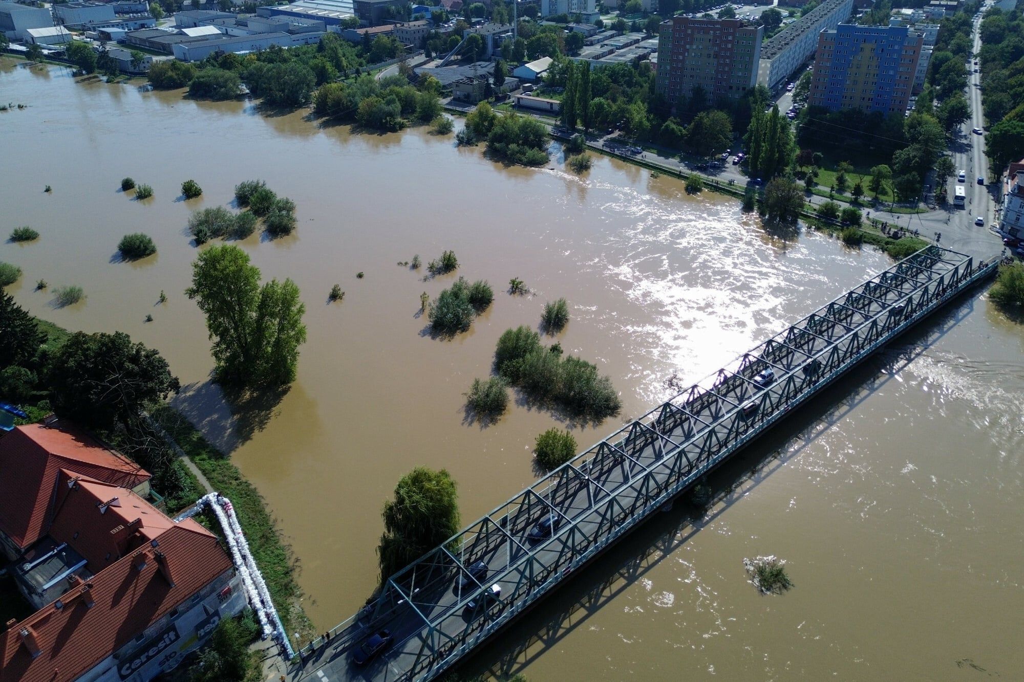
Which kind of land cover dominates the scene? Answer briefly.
water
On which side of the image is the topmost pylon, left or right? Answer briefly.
left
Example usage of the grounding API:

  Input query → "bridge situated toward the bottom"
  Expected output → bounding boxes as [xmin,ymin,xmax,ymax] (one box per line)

[294,245,985,682]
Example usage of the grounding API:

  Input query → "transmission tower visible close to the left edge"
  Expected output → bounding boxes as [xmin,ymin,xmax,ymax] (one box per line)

[37,0,72,57]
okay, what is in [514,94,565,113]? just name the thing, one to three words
shed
